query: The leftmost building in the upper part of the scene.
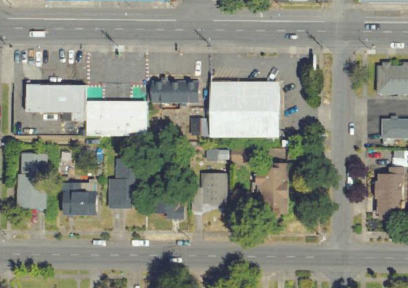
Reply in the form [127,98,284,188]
[26,84,87,121]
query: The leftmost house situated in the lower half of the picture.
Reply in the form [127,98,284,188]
[18,153,48,209]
